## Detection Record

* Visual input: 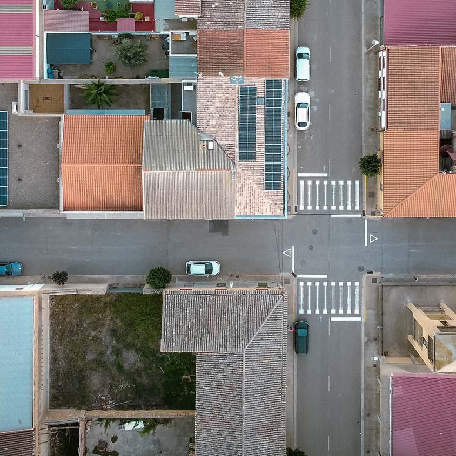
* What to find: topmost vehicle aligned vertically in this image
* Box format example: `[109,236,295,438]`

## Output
[294,45,311,81]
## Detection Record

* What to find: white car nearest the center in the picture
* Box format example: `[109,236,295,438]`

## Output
[186,260,220,277]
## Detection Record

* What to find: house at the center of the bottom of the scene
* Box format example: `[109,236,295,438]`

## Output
[161,282,287,456]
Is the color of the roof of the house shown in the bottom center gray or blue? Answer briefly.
gray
